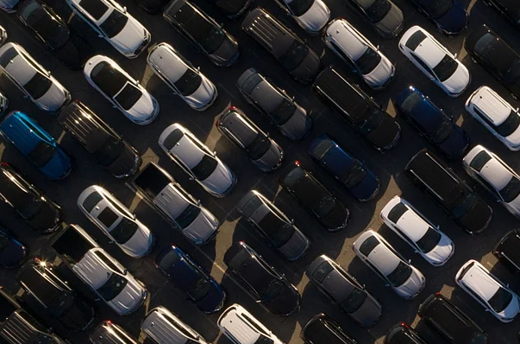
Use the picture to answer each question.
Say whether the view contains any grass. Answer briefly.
No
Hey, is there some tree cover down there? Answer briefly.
No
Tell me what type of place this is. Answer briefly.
parking lot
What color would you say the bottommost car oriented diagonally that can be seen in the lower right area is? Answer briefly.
black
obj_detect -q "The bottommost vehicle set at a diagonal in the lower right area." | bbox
[416,291,498,344]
